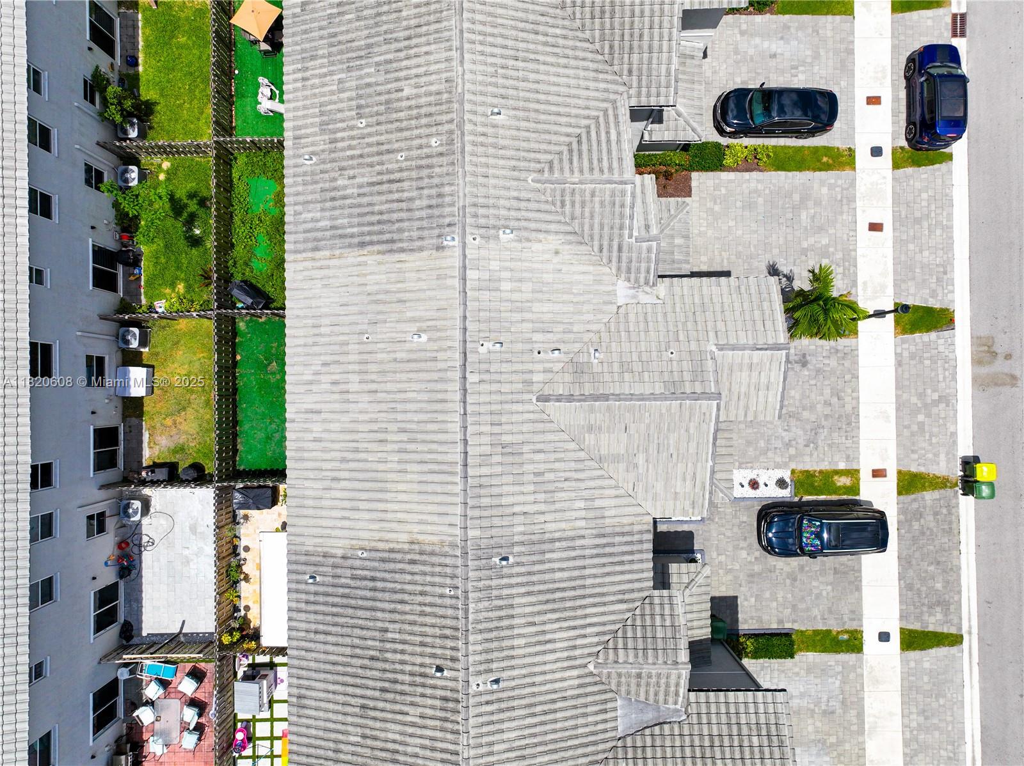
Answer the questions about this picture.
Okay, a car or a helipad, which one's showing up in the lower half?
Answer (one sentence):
What appears in the lower half is a car.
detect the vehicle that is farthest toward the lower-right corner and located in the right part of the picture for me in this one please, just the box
[757,500,888,557]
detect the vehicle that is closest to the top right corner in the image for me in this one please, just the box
[903,43,969,151]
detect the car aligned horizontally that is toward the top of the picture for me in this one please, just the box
[713,88,837,145]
